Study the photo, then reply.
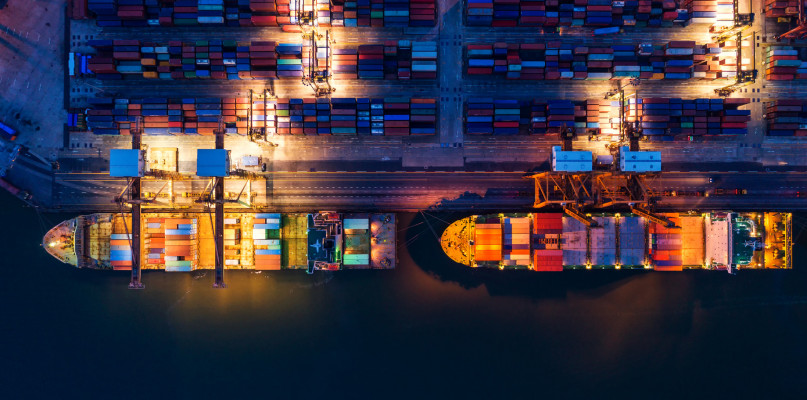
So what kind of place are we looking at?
port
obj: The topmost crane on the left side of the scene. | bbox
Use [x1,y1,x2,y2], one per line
[297,0,325,42]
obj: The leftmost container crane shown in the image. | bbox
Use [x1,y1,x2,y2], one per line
[106,114,210,291]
